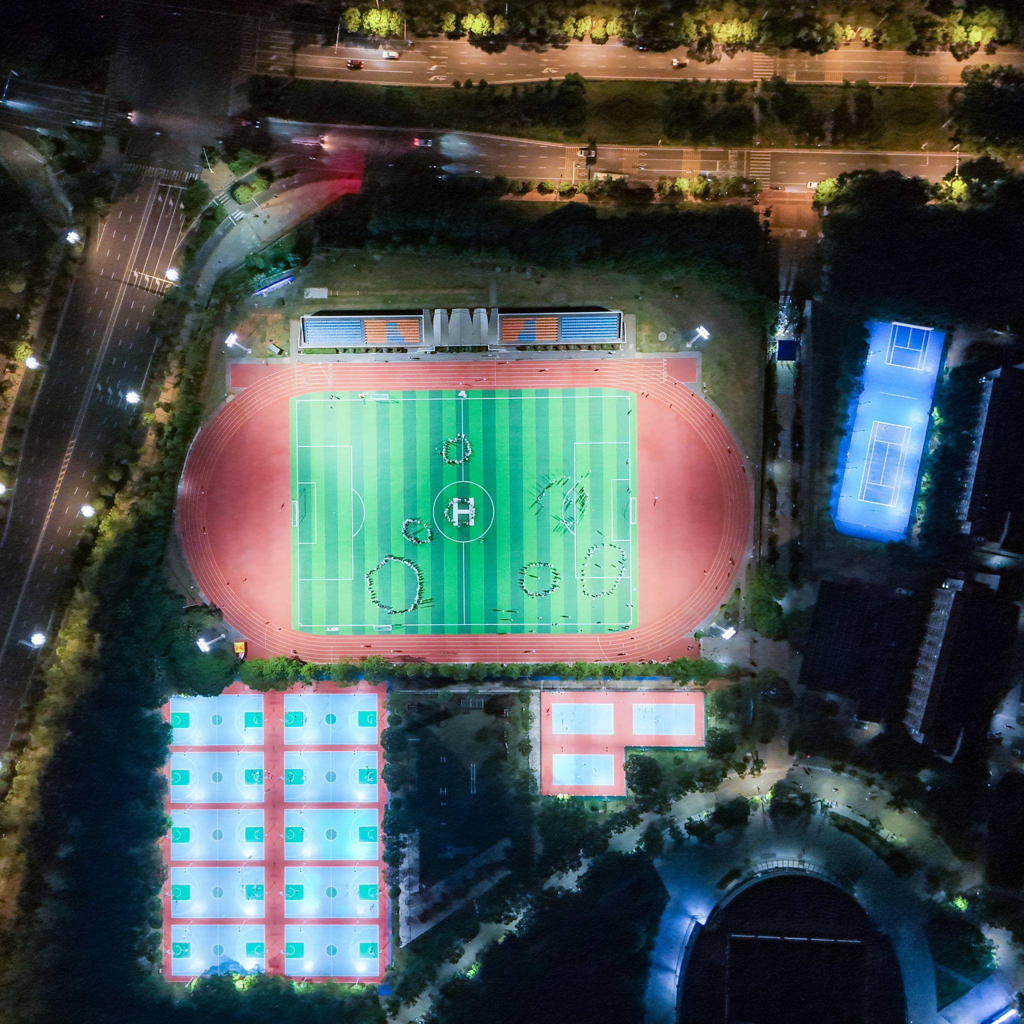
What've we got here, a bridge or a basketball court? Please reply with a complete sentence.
Visible in the photo is a basketball court.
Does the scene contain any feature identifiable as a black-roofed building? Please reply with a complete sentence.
Yes, there's a black-roofed building here.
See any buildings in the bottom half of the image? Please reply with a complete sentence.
Yes, the scene does show a building in the bottom half of the image.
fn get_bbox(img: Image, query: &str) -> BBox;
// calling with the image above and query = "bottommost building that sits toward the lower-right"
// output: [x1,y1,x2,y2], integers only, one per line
[660,852,910,1024]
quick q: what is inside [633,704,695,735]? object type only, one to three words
sports court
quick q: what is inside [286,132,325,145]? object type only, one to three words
vehicle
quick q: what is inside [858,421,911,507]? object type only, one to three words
tennis court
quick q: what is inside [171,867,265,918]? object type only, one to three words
basketball court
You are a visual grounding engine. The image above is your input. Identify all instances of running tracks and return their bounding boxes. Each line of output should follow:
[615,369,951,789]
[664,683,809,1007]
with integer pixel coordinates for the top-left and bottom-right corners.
[176,357,753,666]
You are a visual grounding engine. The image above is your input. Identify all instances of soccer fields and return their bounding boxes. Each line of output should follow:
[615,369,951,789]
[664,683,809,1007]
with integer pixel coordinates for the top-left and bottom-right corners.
[289,387,639,635]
